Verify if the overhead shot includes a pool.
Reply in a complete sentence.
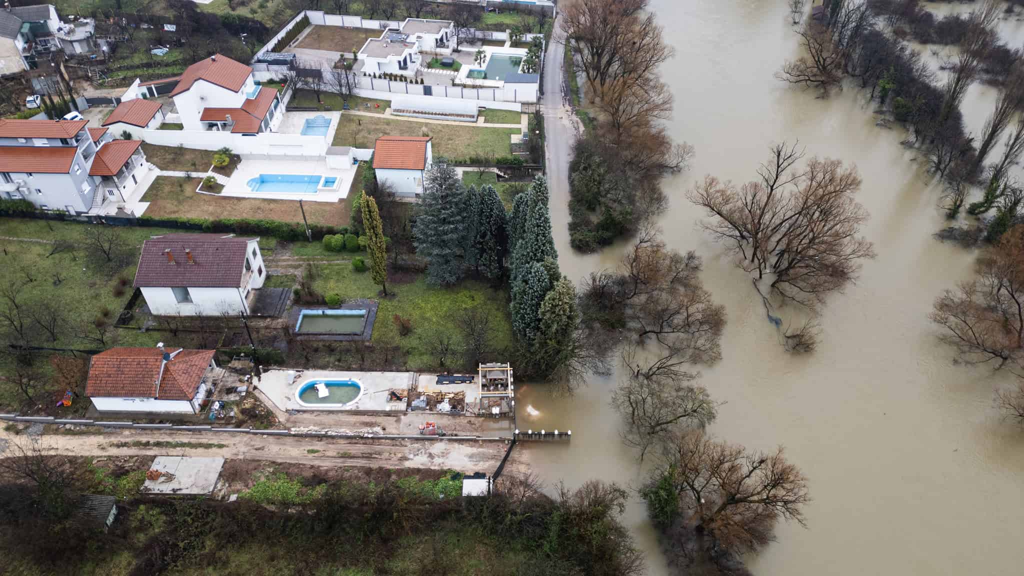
Yes, the frame does contain a pool.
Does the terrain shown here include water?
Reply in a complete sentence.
Yes, water can be seen from above here.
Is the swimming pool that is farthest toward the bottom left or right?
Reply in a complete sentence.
You can find the swimming pool that is farthest toward the bottom on the left side of the picture.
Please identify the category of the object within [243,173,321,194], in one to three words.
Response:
swimming pool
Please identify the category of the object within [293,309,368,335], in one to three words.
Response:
swimming pool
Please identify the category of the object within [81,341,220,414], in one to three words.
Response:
house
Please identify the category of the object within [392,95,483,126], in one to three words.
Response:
greenhouse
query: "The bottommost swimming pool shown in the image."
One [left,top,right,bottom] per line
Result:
[293,376,371,409]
